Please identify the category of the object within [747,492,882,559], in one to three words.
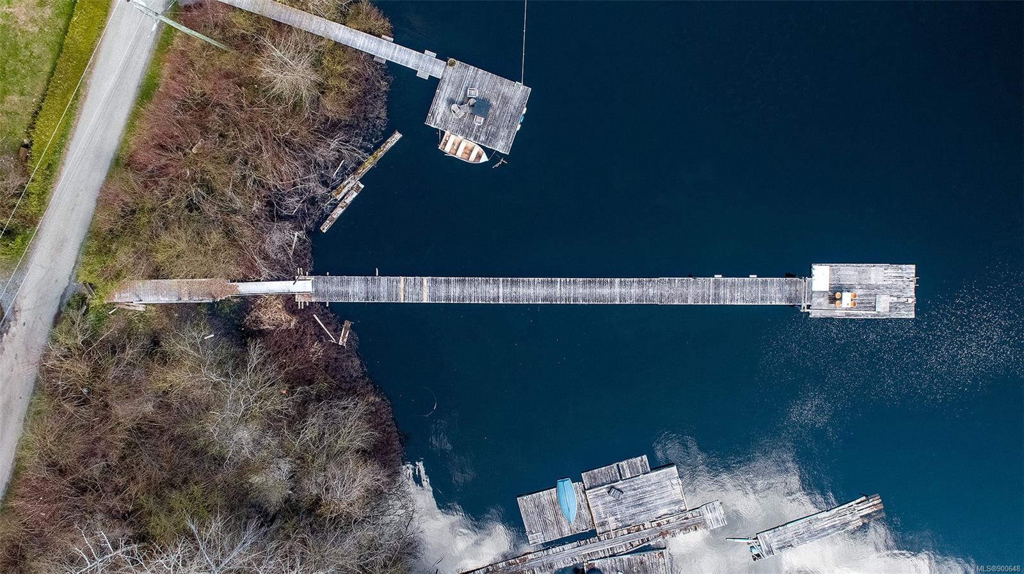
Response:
pier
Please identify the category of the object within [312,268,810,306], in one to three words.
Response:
pier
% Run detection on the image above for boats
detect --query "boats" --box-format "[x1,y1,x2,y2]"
[556,475,578,525]
[439,132,489,162]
